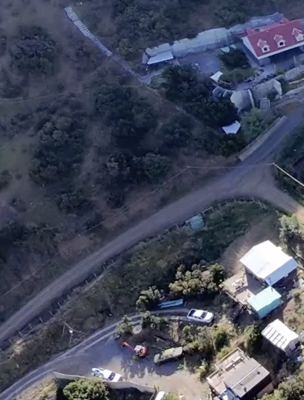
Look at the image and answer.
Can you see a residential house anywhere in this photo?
Yes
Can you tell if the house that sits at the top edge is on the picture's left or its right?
right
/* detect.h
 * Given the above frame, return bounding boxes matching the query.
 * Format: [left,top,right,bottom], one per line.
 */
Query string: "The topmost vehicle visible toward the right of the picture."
[185,307,214,323]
